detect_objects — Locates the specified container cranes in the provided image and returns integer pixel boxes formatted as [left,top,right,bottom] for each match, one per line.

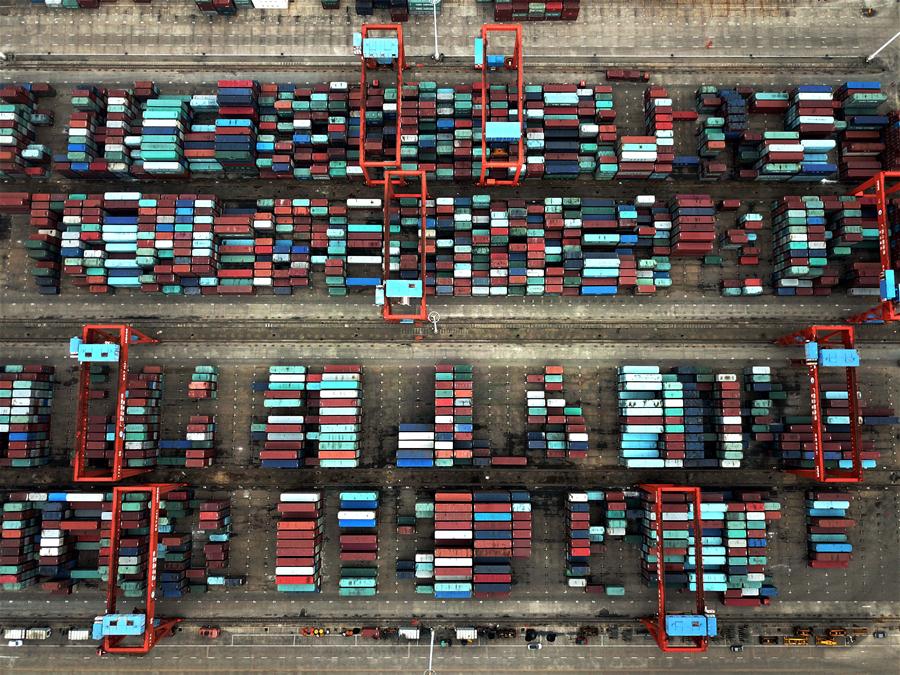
[90,481,188,648]
[838,173,900,328]
[65,327,163,480]
[773,327,864,480]
[472,28,526,183]
[352,28,413,183]
[375,172,434,328]
[629,481,718,648]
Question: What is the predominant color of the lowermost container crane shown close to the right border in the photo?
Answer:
red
